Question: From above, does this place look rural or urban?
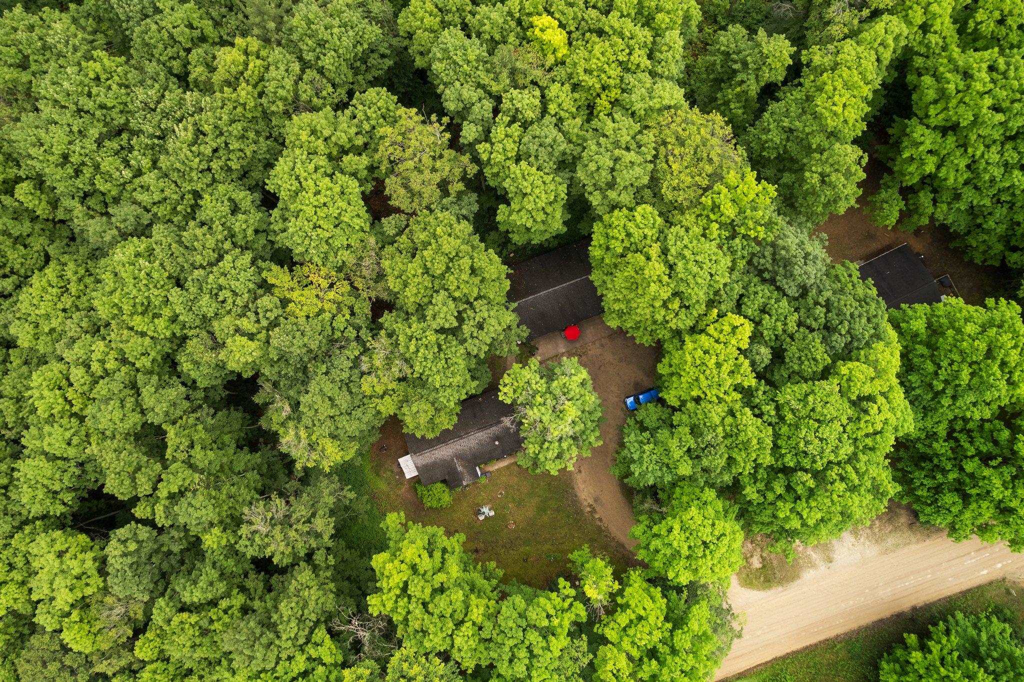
rural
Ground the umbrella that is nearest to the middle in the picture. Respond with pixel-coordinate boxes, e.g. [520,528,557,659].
[563,326,580,341]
